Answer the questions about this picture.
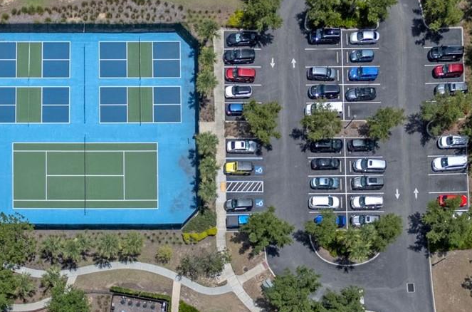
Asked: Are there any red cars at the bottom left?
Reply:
No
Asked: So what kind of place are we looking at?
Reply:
sports ground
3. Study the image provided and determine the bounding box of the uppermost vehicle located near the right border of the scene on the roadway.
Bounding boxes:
[427,45,463,61]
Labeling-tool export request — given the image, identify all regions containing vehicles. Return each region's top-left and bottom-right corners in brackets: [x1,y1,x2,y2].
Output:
[437,135,468,150]
[348,65,380,81]
[224,103,250,118]
[225,67,255,84]
[227,31,256,47]
[433,155,470,172]
[309,176,338,191]
[225,84,252,99]
[309,195,340,209]
[347,138,376,153]
[427,45,463,61]
[312,137,342,153]
[347,48,374,64]
[308,84,338,99]
[307,65,336,81]
[432,62,462,79]
[226,139,255,154]
[352,175,383,191]
[345,86,374,101]
[225,160,253,175]
[309,28,340,43]
[348,30,377,46]
[222,213,256,227]
[224,197,253,212]
[354,157,384,173]
[224,48,253,65]
[436,80,466,96]
[311,157,340,172]
[352,195,382,209]
[350,213,378,227]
